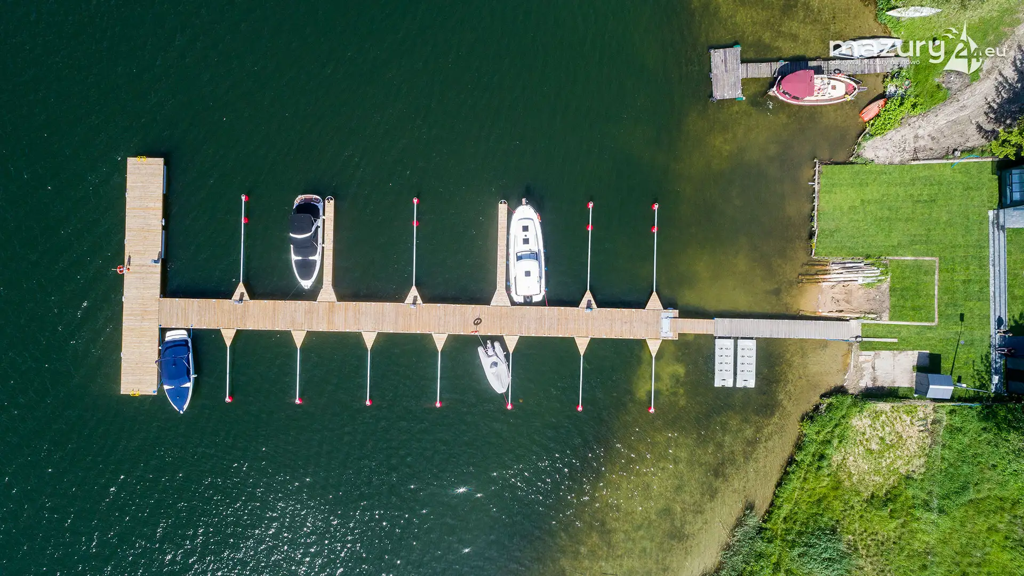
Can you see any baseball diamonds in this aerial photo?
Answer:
No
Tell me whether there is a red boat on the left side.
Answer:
No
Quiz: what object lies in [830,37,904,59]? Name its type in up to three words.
boat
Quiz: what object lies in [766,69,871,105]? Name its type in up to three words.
boat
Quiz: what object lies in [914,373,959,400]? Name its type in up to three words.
shed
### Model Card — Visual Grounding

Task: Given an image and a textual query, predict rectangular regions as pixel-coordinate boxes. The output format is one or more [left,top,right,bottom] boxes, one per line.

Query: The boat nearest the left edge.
[152,325,203,415]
